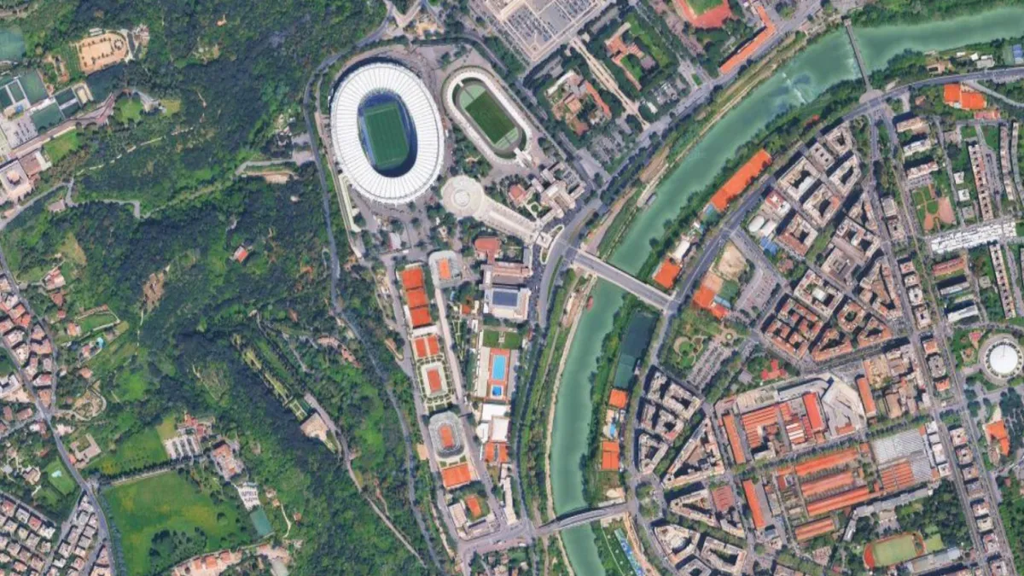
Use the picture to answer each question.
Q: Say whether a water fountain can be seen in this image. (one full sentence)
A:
Yes, the photo shows a water fountain.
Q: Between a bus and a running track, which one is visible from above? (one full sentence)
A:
This aerial view contains a running track.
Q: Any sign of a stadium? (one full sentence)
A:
Yes, you can see a stadium in this photo.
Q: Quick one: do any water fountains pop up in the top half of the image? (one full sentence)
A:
Yes, I can see a water fountain in the top half of the image.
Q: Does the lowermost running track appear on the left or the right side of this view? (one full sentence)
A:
You can find the lowermost running track on the right side of the picture.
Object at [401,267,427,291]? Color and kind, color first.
red tennis court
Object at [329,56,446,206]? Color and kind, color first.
white stadium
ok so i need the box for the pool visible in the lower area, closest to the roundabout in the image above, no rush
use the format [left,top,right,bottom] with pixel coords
[603,410,619,439]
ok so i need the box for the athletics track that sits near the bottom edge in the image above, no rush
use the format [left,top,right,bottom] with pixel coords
[864,532,925,568]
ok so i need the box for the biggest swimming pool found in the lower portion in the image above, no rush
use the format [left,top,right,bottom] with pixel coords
[485,348,510,401]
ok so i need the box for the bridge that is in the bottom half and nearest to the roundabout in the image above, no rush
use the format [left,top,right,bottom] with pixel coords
[534,503,630,535]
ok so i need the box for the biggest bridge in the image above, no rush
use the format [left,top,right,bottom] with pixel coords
[570,245,674,313]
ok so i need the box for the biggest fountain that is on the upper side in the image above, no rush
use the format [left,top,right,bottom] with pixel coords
[442,175,483,217]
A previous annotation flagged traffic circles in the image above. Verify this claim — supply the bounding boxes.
[630,469,674,530]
